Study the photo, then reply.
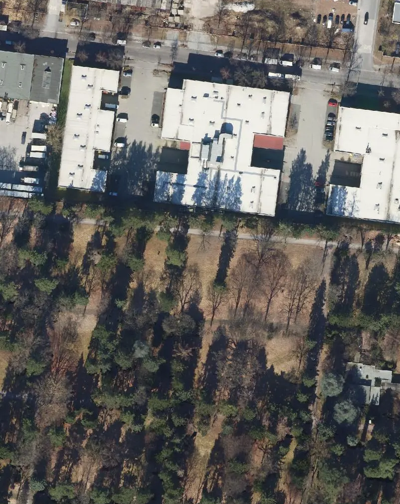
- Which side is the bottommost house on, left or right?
right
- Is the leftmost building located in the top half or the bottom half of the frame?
top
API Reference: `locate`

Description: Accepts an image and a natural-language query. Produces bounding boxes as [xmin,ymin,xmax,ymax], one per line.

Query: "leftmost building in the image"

[0,50,65,104]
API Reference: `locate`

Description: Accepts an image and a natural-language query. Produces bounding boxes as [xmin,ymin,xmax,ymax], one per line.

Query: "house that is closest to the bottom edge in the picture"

[345,364,400,405]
